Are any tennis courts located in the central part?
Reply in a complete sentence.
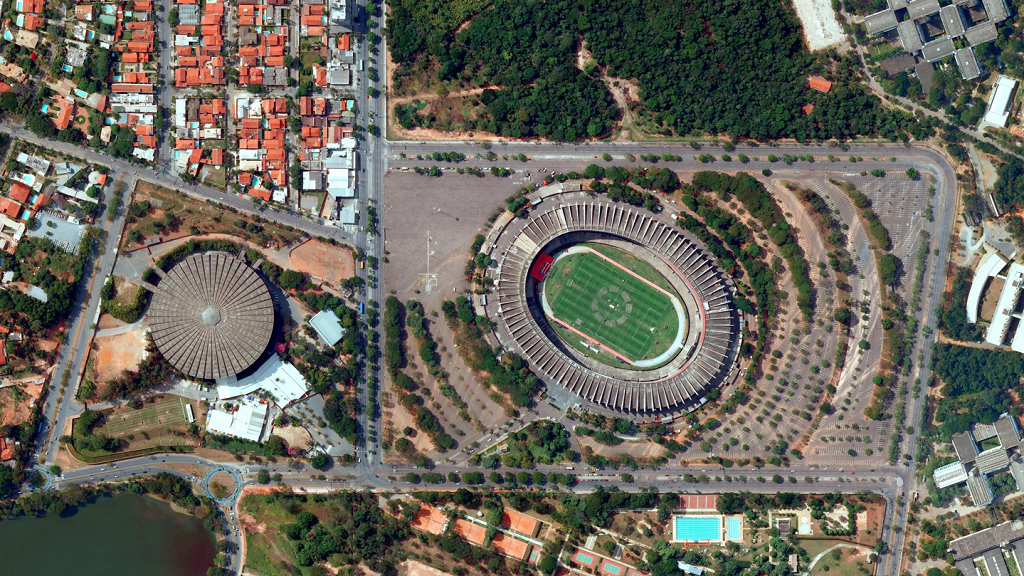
No, in the central part there is no tennis court.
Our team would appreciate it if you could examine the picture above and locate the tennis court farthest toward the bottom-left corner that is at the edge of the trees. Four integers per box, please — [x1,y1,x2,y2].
[411,502,447,534]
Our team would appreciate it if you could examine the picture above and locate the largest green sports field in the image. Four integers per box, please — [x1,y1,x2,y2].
[552,251,671,361]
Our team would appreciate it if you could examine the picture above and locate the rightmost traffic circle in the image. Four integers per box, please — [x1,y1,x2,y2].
[202,464,243,505]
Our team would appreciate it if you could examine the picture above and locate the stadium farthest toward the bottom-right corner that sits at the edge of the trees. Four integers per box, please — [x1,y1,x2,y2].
[494,200,733,413]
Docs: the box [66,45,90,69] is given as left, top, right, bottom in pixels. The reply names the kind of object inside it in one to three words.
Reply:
house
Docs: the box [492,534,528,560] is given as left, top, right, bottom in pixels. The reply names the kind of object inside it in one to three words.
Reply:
tennis court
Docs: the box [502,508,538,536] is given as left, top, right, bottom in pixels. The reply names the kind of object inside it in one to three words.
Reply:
tennis court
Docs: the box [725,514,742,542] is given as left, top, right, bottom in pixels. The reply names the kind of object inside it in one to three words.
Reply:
swimming pool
